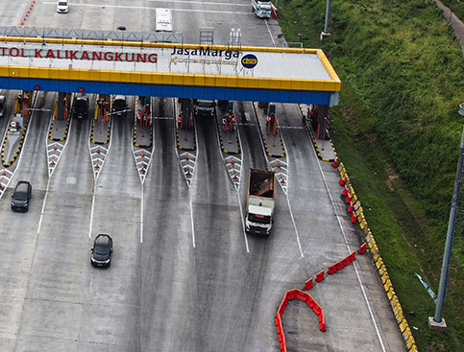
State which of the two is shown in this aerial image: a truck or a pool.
truck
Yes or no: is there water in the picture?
No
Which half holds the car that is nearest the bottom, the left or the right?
left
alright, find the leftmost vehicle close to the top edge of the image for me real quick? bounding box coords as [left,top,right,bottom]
[56,0,70,12]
